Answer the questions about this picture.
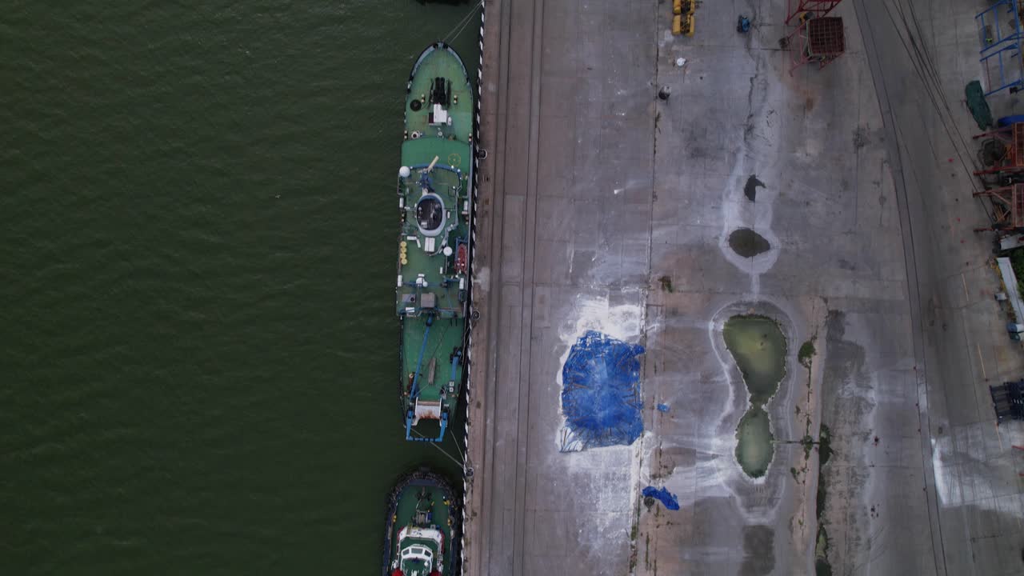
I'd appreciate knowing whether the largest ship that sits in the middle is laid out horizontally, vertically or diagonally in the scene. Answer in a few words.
vertically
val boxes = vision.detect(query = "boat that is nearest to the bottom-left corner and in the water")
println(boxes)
[383,469,462,576]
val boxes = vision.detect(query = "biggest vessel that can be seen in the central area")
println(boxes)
[396,37,474,443]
